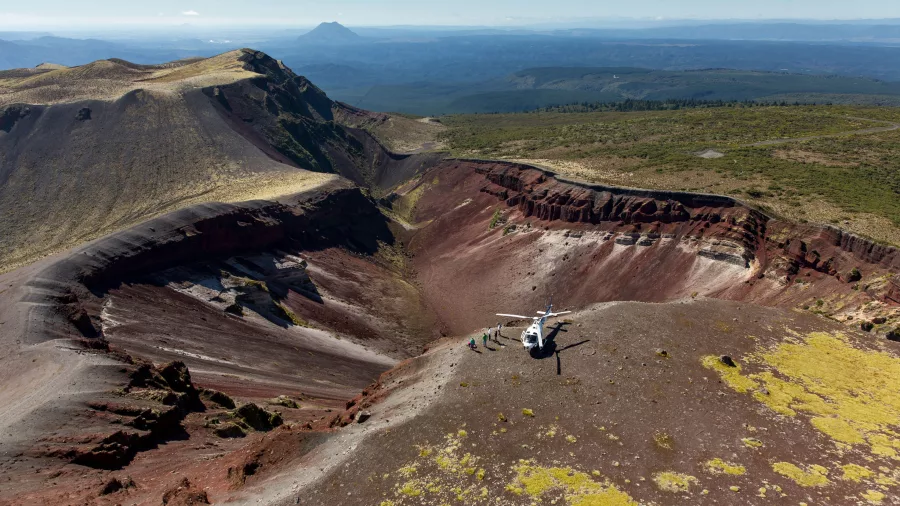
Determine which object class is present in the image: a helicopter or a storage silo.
helicopter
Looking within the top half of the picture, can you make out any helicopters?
No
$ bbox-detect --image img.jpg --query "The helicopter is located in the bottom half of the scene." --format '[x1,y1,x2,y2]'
[497,299,569,350]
